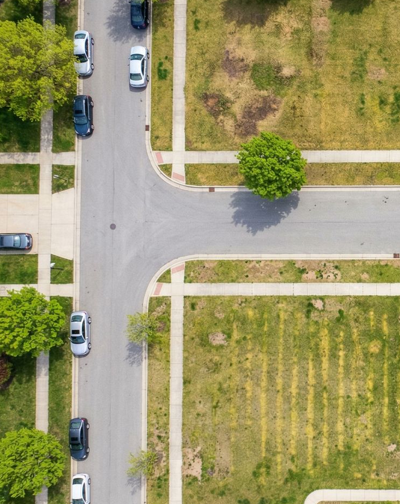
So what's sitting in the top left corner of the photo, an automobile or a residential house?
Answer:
automobile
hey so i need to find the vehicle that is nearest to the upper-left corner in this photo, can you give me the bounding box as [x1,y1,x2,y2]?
[75,30,98,76]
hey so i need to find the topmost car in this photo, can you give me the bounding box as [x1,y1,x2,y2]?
[130,0,153,34]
